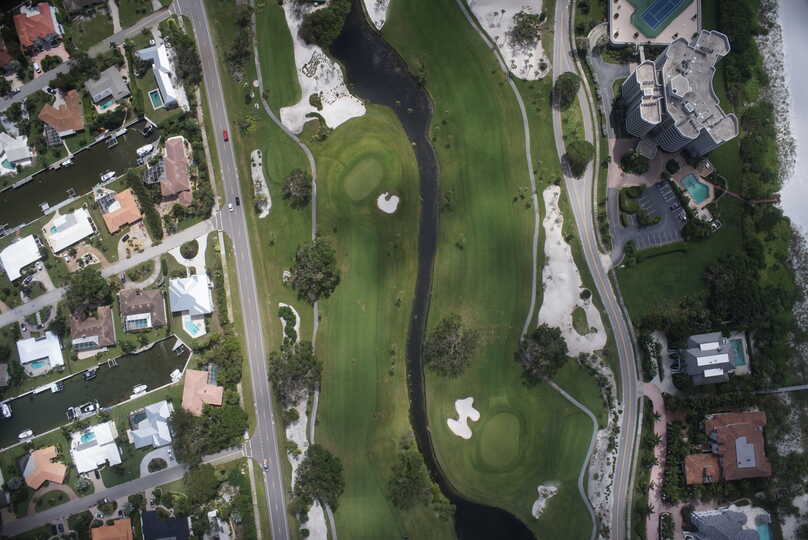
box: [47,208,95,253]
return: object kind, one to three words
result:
house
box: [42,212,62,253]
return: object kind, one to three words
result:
swimming pool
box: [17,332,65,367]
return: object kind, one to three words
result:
house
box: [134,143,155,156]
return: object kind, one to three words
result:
boat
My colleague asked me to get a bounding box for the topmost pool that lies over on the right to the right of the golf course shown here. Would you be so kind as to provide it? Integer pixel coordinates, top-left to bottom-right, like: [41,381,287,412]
[672,170,713,208]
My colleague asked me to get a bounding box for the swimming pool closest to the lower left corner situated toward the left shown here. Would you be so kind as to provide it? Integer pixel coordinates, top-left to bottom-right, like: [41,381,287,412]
[69,427,95,451]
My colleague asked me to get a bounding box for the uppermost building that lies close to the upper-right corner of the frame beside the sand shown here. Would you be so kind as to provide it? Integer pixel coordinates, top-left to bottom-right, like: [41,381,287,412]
[623,28,739,159]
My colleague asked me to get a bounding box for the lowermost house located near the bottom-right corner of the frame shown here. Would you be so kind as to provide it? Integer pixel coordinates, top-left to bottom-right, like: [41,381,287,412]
[692,507,761,540]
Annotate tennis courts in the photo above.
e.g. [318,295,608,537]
[628,0,694,37]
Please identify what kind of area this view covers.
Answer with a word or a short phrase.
golf course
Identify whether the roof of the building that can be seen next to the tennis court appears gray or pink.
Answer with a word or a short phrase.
gray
